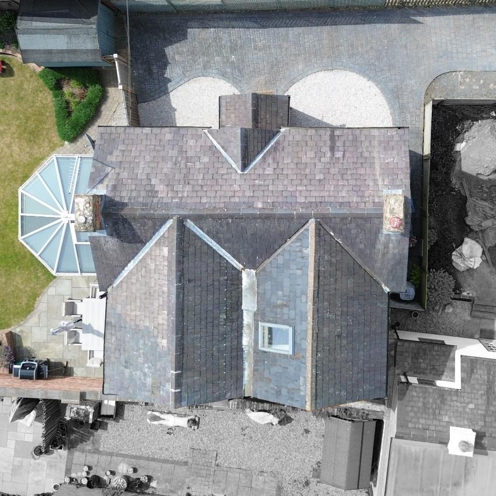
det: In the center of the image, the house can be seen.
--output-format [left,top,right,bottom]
[65,90,415,410]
